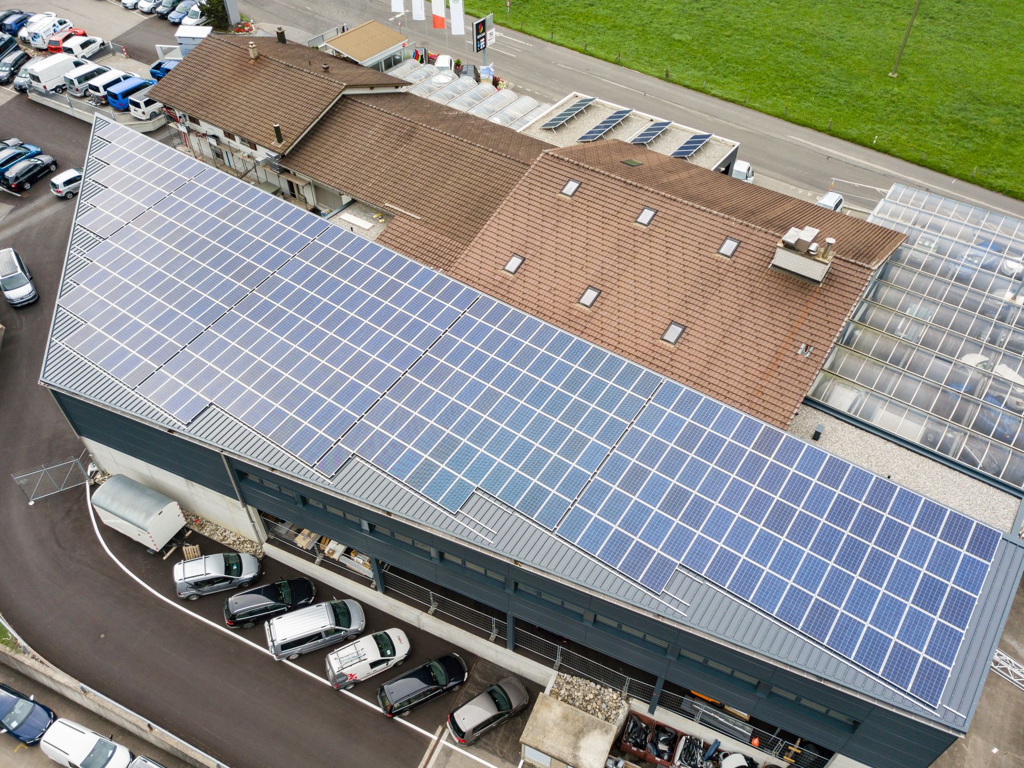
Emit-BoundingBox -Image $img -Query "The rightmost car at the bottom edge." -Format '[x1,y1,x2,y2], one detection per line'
[436,671,535,752]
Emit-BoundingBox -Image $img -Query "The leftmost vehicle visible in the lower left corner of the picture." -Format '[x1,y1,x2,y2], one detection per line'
[0,673,60,760]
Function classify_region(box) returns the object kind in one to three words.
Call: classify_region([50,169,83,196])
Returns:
car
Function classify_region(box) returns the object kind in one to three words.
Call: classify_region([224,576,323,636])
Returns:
car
